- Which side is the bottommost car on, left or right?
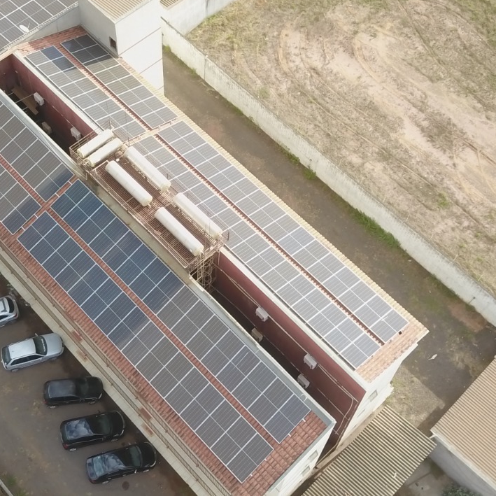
left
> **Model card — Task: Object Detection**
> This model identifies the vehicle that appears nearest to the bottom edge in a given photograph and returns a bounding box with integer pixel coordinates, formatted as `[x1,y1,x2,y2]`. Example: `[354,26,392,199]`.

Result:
[82,442,157,487]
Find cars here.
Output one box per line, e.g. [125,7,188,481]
[40,371,106,410]
[82,442,157,487]
[0,295,21,328]
[57,409,127,450]
[0,331,63,370]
